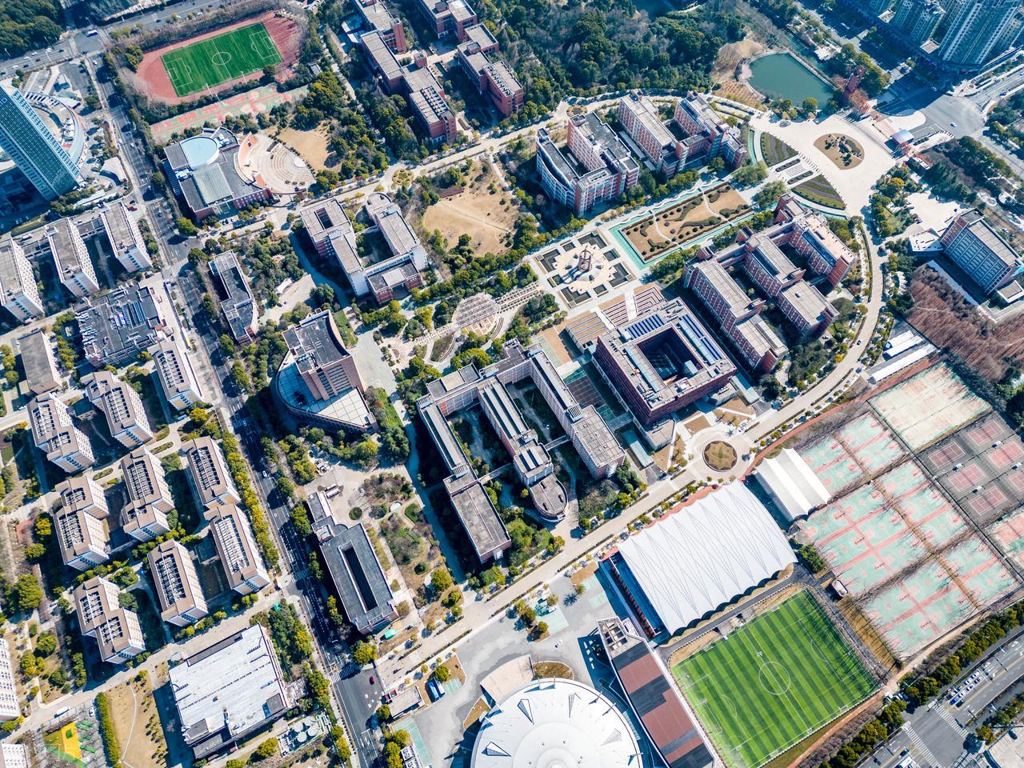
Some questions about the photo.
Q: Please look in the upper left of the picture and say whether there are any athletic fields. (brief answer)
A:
Yes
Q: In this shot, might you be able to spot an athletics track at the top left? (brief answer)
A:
Yes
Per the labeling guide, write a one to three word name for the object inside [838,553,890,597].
basketball court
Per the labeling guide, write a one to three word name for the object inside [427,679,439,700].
vehicle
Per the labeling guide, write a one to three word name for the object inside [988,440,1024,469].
tennis court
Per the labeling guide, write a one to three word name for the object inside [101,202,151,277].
house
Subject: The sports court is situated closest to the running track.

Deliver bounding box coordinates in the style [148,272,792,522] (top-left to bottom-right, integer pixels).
[150,83,308,140]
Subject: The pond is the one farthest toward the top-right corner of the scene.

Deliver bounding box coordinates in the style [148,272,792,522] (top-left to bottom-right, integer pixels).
[749,51,834,109]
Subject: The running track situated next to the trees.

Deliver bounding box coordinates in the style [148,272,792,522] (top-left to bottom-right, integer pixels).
[132,15,308,105]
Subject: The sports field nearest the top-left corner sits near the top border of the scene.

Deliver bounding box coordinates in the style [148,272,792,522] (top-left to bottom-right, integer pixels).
[159,21,284,97]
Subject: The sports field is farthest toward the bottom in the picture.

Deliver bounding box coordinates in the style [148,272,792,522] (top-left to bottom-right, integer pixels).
[670,584,881,768]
